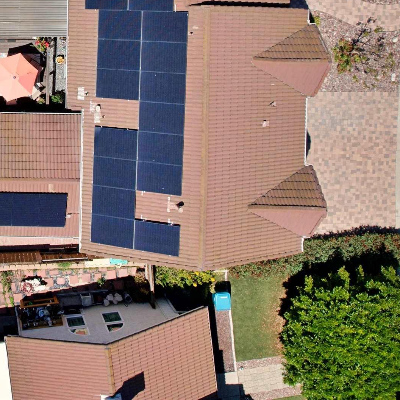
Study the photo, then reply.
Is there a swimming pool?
No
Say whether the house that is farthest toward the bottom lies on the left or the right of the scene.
left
